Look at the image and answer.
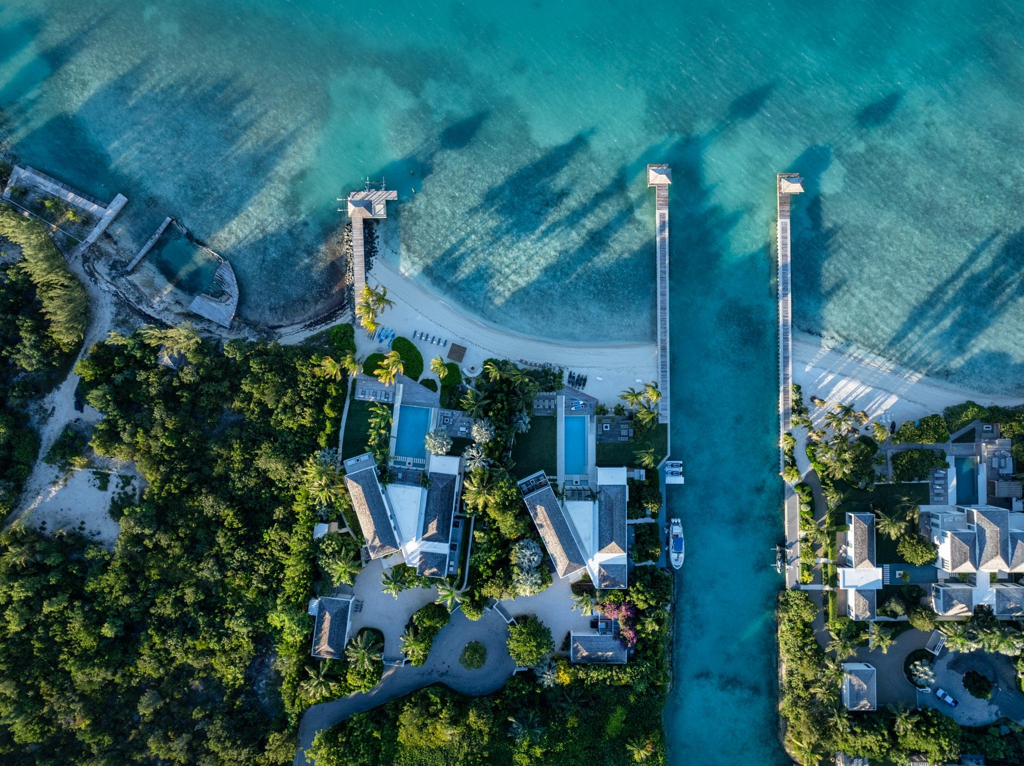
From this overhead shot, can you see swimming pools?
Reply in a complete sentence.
Yes, you can see a swimming pool in this photo.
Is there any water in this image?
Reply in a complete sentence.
Yes, there's water in this view.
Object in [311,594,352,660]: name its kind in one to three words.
building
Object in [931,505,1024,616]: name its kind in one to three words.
house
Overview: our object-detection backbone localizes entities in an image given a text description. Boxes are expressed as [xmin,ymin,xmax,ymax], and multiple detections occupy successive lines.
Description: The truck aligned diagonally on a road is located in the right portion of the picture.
[933,686,961,712]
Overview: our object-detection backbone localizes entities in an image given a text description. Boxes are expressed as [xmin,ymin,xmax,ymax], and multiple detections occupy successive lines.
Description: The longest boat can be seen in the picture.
[670,520,684,570]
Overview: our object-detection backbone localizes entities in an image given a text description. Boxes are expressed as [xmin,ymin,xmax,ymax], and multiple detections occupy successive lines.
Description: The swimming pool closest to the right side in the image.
[946,456,987,505]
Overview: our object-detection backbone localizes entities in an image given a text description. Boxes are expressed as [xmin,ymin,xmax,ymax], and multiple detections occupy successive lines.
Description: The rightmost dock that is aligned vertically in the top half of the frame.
[775,172,799,432]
